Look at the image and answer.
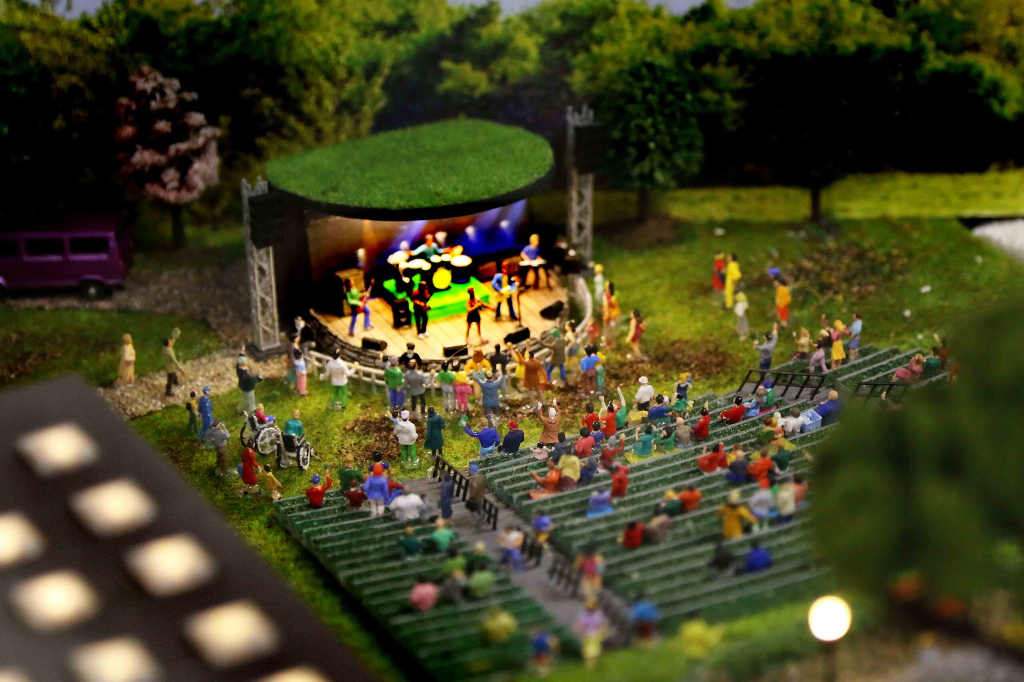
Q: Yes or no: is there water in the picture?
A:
No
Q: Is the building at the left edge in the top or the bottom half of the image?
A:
bottom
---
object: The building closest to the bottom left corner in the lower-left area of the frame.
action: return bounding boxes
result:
[0,374,329,682]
